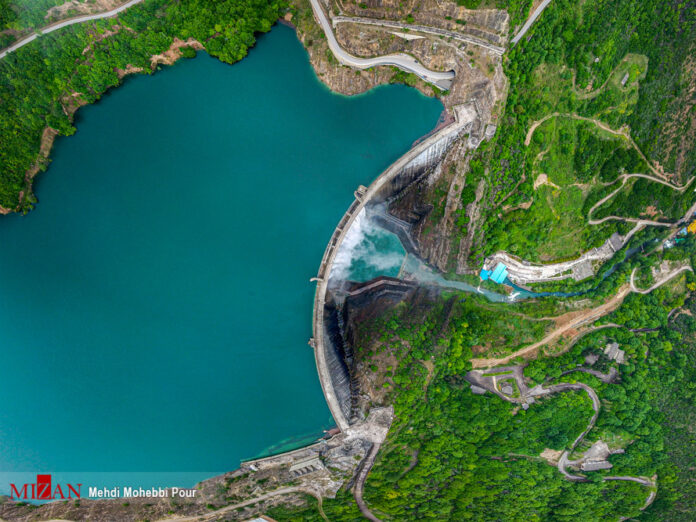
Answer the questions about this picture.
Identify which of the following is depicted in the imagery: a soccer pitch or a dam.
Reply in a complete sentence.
The image shows a dam.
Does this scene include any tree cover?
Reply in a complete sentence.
Yes, there is tree cover in the image.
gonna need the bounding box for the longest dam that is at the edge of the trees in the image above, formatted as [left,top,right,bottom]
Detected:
[308,117,464,430]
